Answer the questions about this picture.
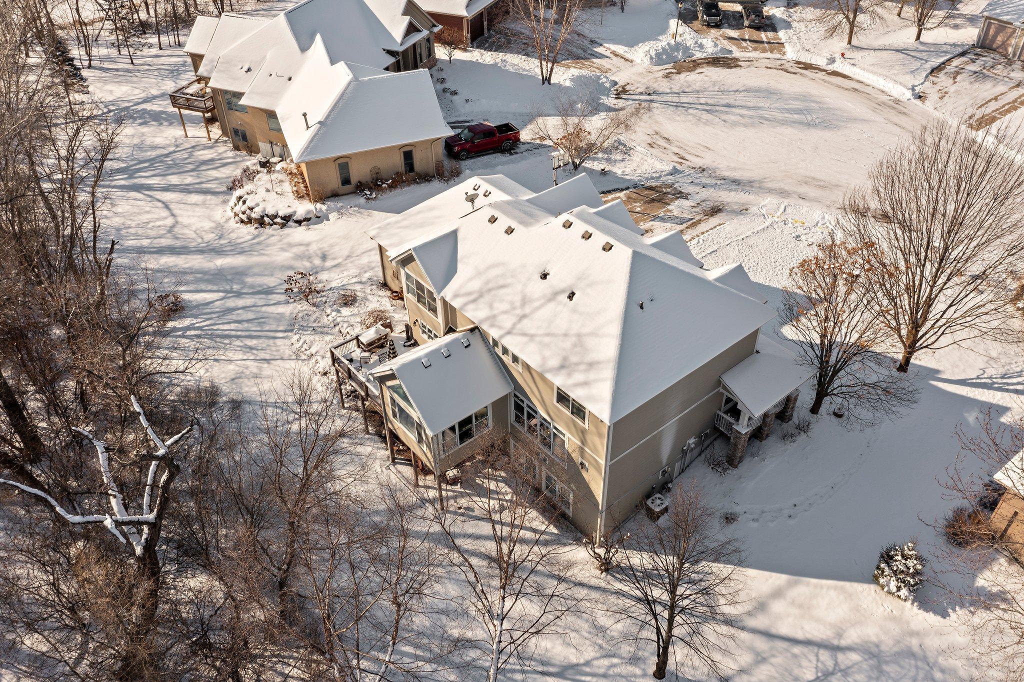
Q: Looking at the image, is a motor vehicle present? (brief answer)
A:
Yes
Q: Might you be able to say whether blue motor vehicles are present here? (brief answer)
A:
No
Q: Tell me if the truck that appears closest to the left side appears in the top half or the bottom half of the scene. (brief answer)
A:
top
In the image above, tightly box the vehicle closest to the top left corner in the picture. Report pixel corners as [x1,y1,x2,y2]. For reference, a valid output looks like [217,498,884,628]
[441,123,522,162]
